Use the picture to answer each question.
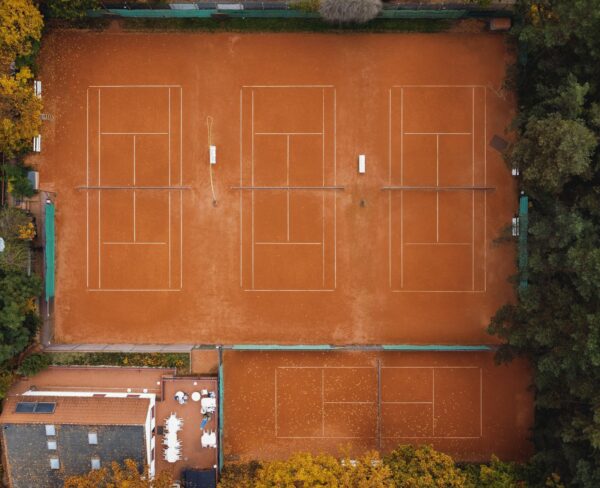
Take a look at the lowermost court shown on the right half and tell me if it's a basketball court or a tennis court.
tennis court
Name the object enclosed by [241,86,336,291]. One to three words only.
tennis court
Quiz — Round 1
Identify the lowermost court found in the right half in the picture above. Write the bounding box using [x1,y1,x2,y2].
[275,367,482,438]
